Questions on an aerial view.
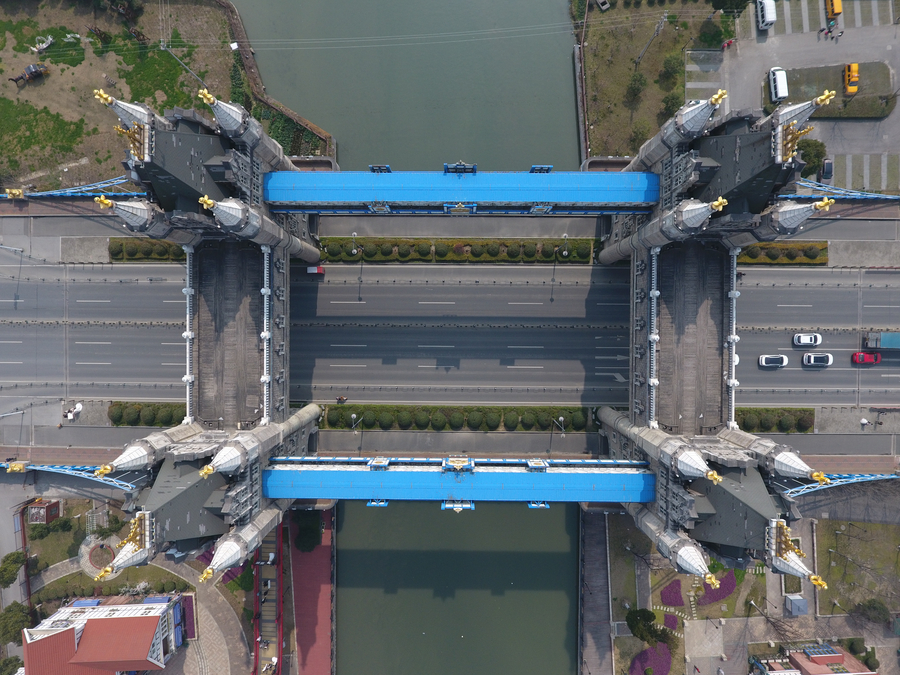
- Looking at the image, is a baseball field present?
No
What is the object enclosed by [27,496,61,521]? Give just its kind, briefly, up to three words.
shed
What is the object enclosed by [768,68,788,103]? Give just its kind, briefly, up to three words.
vehicle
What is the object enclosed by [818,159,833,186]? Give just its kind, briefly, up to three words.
car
